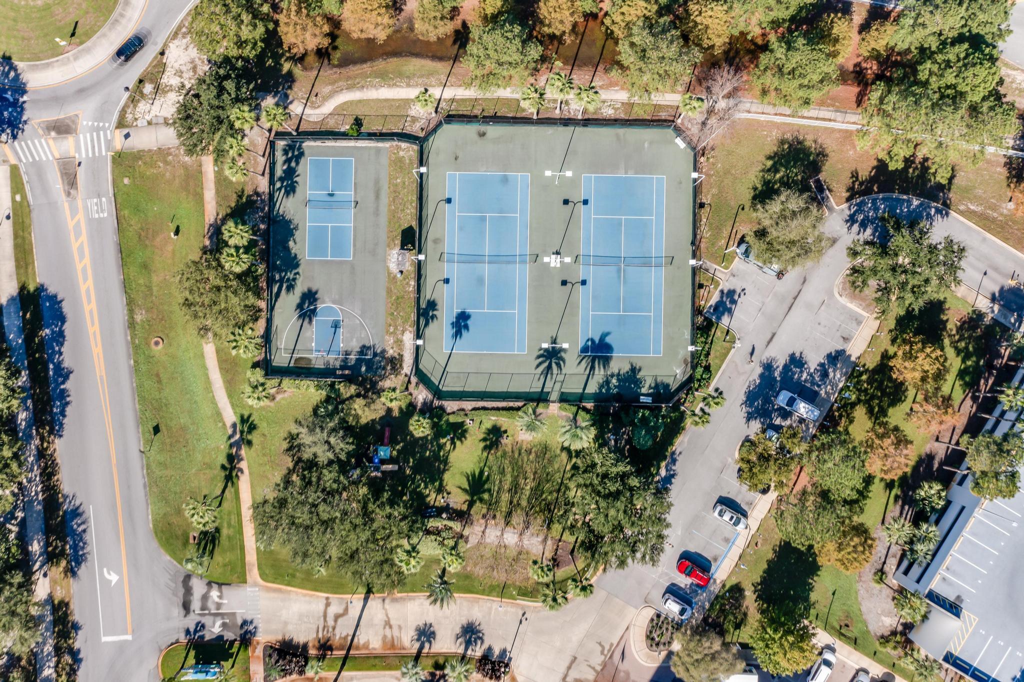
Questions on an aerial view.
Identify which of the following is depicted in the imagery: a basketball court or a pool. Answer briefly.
basketball court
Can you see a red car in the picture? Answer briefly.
Yes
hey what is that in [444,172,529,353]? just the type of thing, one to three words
tennis court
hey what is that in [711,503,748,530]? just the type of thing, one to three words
car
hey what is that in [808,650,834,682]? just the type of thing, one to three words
car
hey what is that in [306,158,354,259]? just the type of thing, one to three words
sports court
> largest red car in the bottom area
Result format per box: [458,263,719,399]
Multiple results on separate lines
[675,558,713,588]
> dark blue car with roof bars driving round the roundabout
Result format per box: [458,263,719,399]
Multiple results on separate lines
[111,33,149,66]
